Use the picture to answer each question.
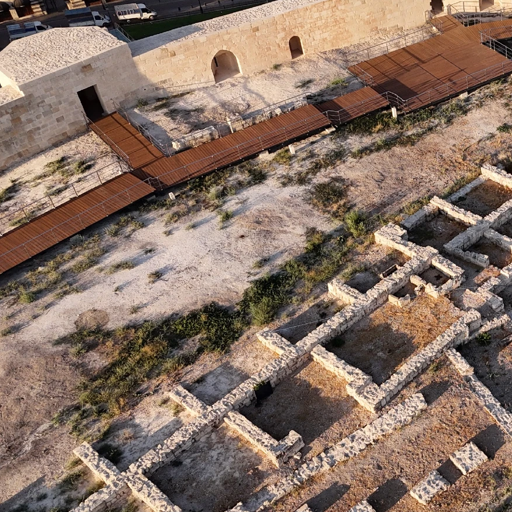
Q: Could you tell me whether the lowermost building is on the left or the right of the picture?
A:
left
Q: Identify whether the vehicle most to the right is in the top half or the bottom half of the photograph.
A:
top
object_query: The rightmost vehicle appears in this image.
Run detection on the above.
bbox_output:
[110,0,156,21]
